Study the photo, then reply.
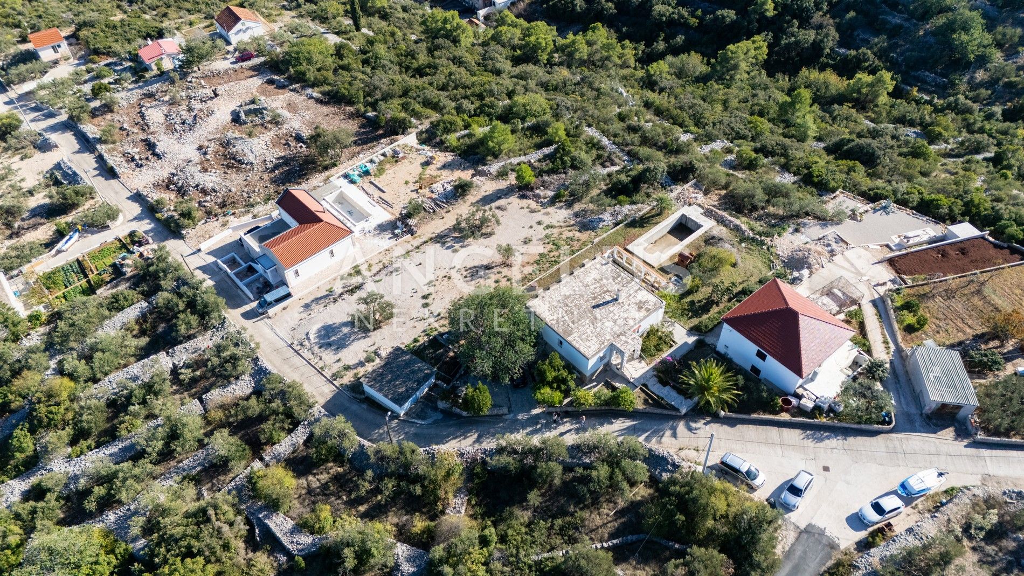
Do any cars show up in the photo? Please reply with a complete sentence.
Yes, the image includes a car.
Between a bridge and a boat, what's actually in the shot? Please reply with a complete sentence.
Of the two, only a boat appears.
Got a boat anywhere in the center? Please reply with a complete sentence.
No, the scene shows no boat in the center.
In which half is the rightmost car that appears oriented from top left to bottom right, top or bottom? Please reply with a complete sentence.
It is in the bottom half that the rightmost car that appears oriented from top left to bottom right appears.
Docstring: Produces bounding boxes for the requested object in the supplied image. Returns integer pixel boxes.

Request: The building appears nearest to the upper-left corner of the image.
[25,27,77,63]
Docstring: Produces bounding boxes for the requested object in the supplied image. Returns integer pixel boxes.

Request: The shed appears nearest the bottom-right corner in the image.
[898,334,980,419]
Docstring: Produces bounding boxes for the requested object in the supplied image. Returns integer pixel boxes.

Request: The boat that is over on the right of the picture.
[897,468,949,495]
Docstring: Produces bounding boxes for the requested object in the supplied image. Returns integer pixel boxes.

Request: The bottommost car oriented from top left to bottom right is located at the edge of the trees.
[719,451,766,489]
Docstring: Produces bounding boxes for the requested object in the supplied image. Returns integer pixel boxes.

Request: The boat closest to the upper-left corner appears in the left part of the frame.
[49,226,83,254]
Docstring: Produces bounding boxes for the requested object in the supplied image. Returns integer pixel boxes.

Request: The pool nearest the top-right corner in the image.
[625,206,717,269]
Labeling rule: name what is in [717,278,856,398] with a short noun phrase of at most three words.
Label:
house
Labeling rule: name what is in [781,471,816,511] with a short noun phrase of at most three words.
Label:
car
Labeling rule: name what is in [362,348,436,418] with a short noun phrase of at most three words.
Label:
building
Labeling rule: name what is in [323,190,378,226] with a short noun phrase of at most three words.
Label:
swimming pool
